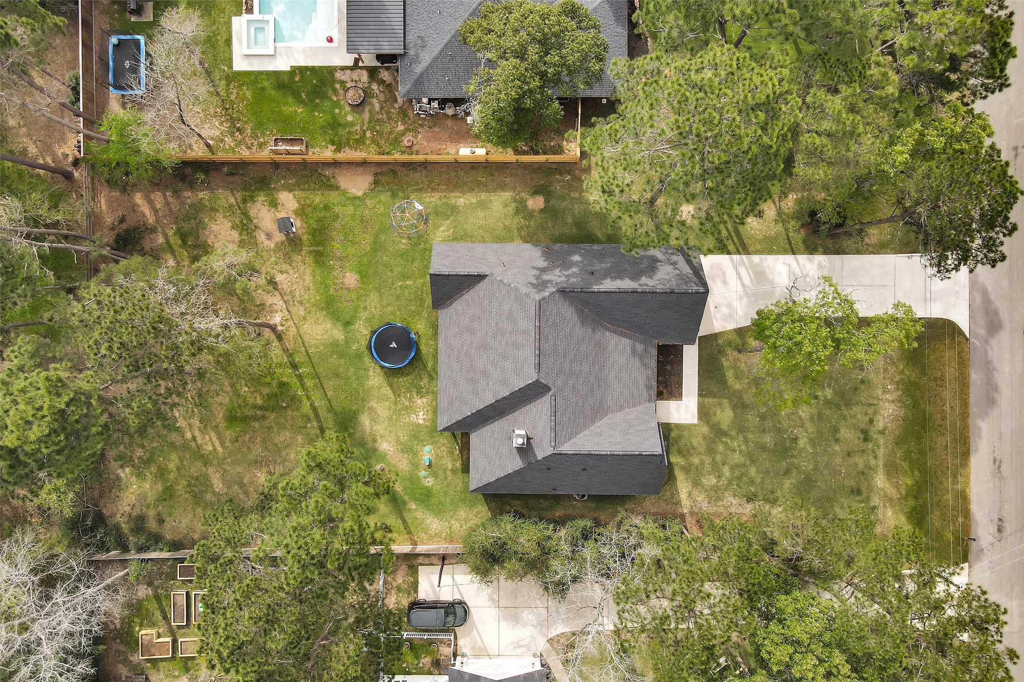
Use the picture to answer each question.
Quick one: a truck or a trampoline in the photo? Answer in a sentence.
I can see a trampoline in this picture.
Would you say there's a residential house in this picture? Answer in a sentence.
Yes, this view includes a residential house.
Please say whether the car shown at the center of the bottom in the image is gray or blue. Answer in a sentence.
The car shown at the center of the bottom looks gray in the image.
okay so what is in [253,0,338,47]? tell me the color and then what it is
white swimming pool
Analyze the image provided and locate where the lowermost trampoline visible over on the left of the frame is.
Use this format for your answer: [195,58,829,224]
[365,321,422,370]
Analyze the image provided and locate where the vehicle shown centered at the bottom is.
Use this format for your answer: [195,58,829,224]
[407,601,469,634]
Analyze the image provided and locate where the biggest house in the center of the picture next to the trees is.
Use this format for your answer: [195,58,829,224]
[430,243,710,495]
